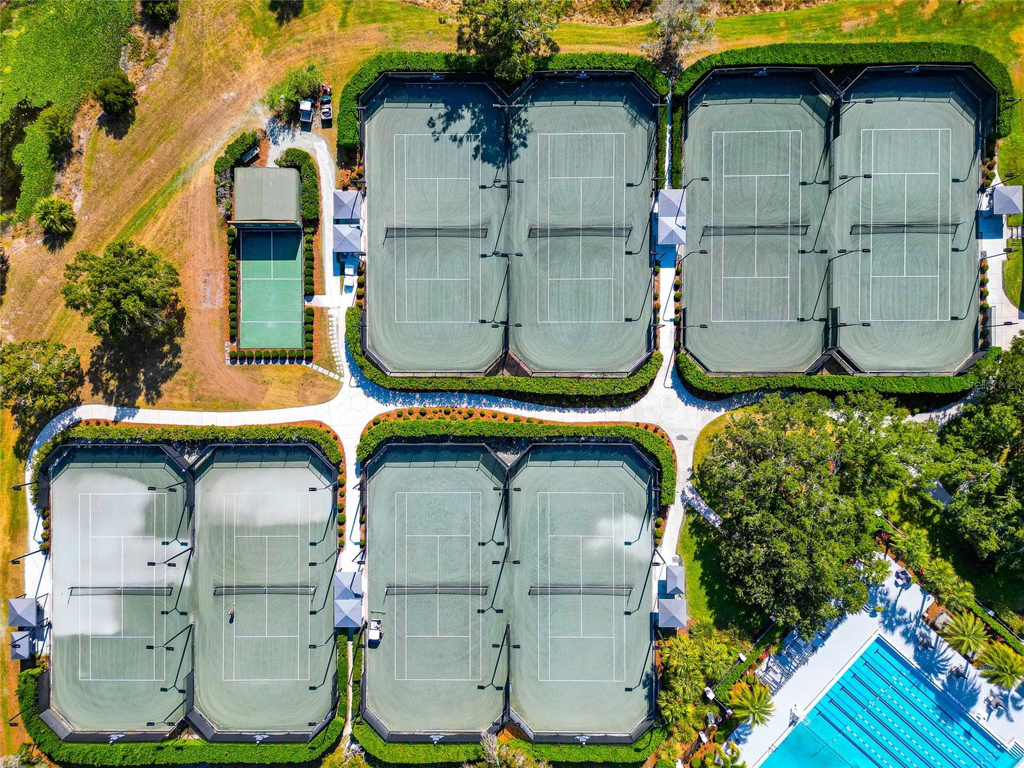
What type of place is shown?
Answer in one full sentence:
The picture captures a sports ground.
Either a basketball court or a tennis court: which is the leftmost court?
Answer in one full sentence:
I'd identify the leftmost court as a tennis court.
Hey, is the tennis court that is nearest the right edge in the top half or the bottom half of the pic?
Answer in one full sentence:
The top half of the photo is where the tennis court that is nearest the right edge is.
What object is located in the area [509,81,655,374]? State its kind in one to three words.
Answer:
tennis court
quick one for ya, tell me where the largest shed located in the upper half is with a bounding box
[236,167,306,222]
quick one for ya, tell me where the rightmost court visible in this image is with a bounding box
[831,77,982,372]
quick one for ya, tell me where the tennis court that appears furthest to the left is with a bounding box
[50,444,194,732]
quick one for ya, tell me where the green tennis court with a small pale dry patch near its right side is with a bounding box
[510,443,654,733]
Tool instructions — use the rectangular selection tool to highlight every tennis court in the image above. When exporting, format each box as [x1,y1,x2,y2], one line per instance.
[194,445,340,732]
[50,444,194,732]
[365,82,509,374]
[682,79,831,372]
[366,441,510,732]
[510,443,654,733]
[831,77,982,372]
[509,81,655,374]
